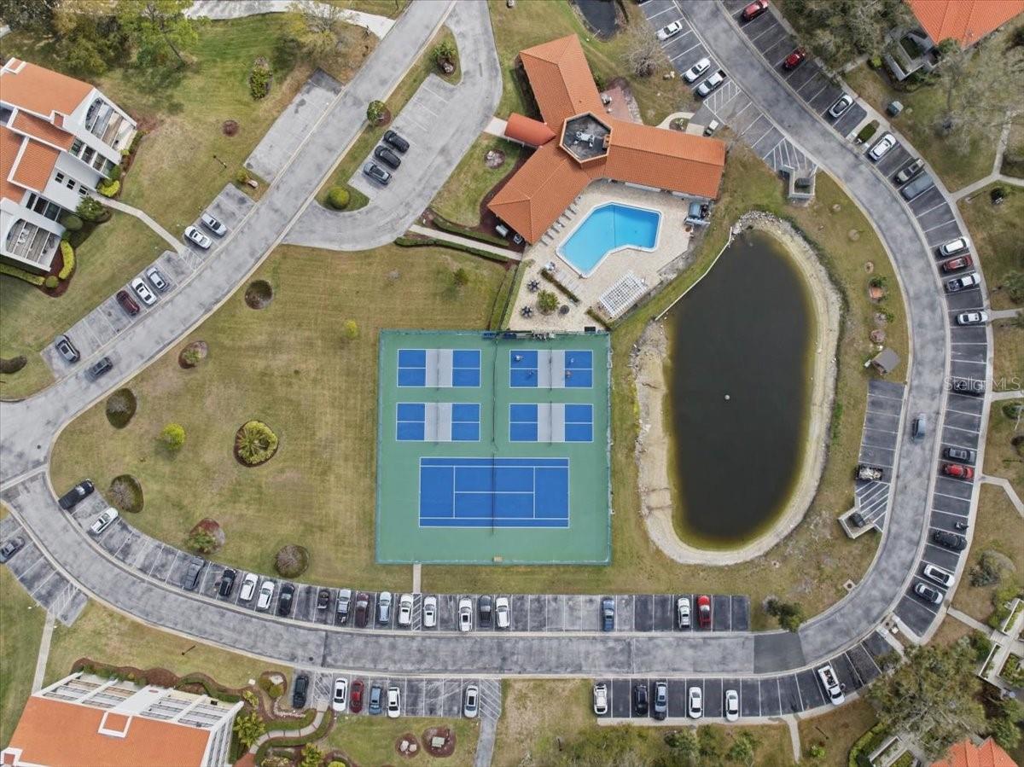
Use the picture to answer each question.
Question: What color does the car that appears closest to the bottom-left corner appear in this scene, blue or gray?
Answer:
gray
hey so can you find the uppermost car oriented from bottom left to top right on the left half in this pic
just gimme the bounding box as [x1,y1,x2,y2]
[81,355,112,379]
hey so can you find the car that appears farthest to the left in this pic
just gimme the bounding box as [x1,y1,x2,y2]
[0,535,23,561]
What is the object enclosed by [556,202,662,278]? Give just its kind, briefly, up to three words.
swimming pool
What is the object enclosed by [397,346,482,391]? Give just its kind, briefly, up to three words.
sports court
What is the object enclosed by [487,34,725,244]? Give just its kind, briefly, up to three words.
building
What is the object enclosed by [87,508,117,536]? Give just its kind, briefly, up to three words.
car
